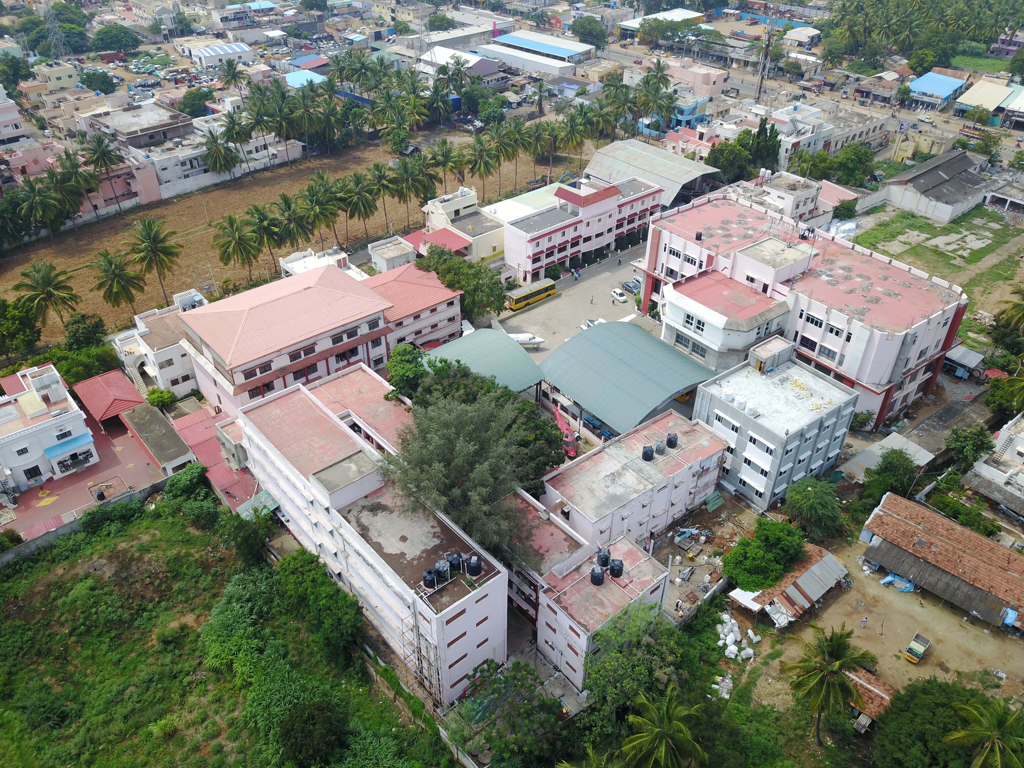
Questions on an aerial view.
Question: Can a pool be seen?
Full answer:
No, the scene contains no pool.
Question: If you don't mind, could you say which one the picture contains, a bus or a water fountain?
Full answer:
Looking from above, you can make out a bus.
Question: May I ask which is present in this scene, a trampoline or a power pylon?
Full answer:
I can see a power pylon in this picture.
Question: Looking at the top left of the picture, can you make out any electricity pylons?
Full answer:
Yes, the scene does show an electricity pylon at the top left of the picture.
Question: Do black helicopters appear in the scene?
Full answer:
No, I find no black helicopter anywhere in the image.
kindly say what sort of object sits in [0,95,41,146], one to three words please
house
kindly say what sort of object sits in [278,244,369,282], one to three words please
house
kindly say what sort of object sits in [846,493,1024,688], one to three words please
building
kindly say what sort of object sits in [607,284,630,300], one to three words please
car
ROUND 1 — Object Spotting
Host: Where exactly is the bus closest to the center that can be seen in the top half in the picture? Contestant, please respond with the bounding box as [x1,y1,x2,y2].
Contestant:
[506,277,562,314]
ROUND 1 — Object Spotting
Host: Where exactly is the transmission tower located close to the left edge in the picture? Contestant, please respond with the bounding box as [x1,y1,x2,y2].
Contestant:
[39,0,77,61]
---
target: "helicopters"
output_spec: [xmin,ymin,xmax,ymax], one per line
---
[548,385,577,450]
